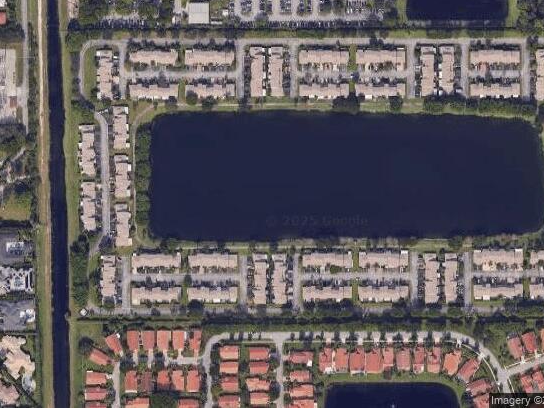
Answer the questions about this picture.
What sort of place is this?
residential area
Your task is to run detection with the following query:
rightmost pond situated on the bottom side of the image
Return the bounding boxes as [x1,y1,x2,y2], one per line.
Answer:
[325,382,461,408]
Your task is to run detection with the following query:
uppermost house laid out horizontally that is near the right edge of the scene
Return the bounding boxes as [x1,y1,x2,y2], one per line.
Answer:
[470,48,521,66]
